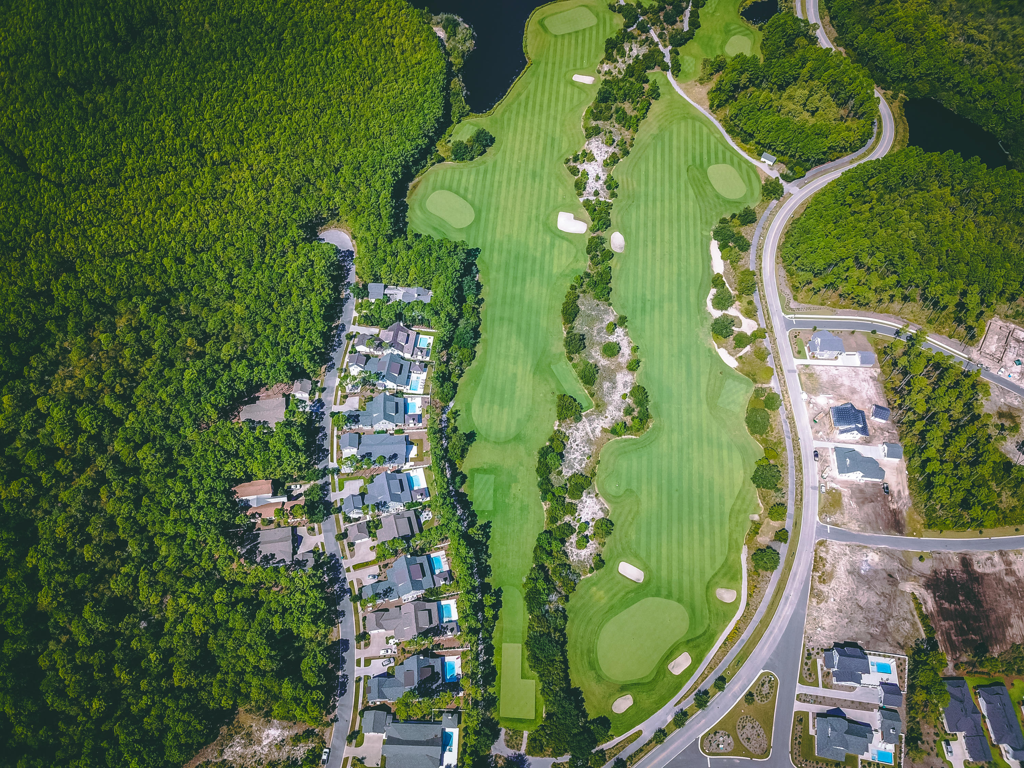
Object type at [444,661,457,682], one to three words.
swimming pool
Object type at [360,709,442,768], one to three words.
house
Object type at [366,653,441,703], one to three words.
house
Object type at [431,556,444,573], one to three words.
swimming pool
